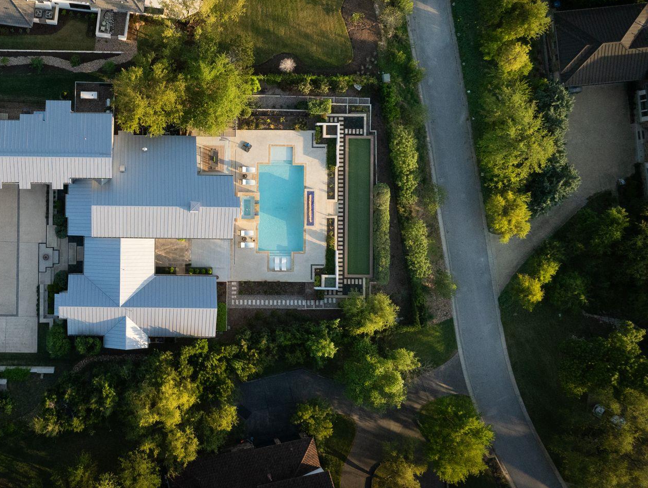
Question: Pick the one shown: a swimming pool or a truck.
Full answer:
Visible in the photo is a swimming pool.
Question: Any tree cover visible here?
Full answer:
Yes, there's tree cover in this view.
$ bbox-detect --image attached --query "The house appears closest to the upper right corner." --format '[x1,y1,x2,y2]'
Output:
[545,2,648,88]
